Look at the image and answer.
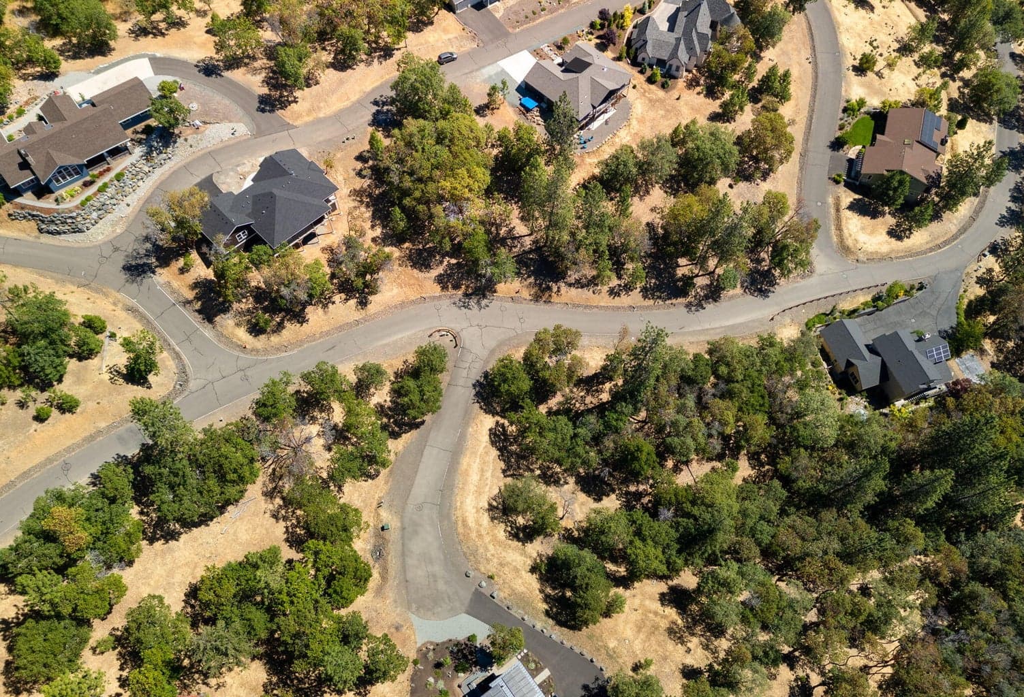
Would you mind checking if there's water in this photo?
No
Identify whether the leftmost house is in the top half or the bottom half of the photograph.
top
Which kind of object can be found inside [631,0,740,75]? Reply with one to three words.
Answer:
house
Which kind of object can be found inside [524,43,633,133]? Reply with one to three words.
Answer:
house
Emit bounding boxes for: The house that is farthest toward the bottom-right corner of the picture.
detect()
[816,320,957,407]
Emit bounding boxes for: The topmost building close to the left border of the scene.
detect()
[0,79,152,194]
